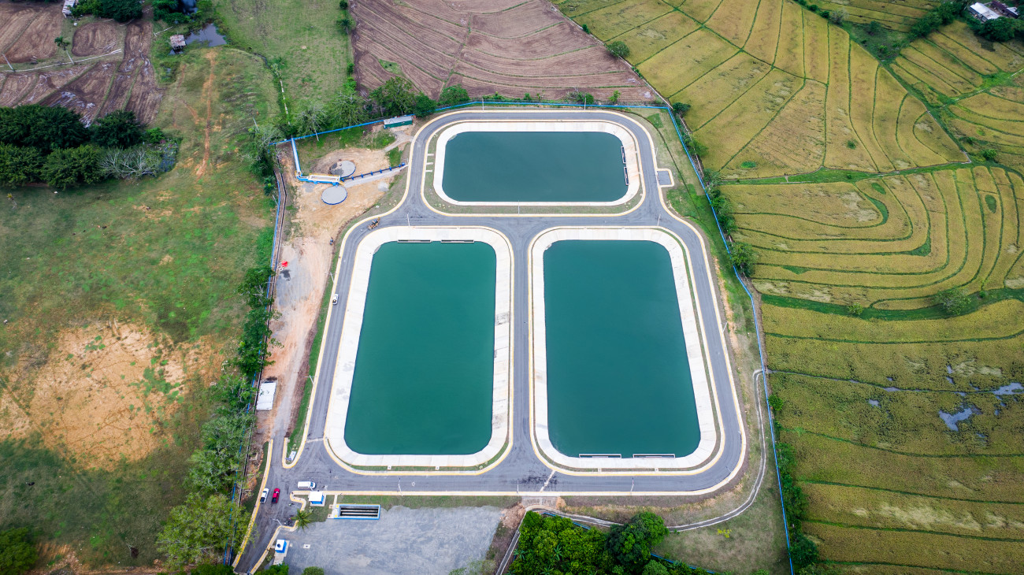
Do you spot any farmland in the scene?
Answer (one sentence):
Yes, some farmland is visible.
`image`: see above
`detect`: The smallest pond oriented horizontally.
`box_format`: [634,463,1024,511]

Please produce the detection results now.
[433,122,639,206]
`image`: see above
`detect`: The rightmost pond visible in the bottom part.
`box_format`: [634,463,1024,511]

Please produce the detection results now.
[532,228,717,468]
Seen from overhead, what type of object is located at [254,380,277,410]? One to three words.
building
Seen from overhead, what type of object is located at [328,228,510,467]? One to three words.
pond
